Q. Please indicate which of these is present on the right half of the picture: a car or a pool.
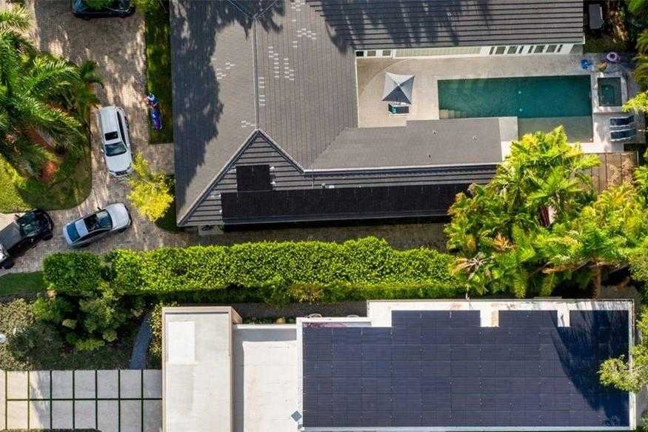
pool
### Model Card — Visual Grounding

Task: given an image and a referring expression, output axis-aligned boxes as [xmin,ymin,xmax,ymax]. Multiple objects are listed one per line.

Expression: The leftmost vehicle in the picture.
[0,204,56,264]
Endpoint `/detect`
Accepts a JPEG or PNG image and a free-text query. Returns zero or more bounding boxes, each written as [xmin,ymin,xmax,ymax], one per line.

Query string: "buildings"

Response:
[169,0,588,229]
[162,299,635,432]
